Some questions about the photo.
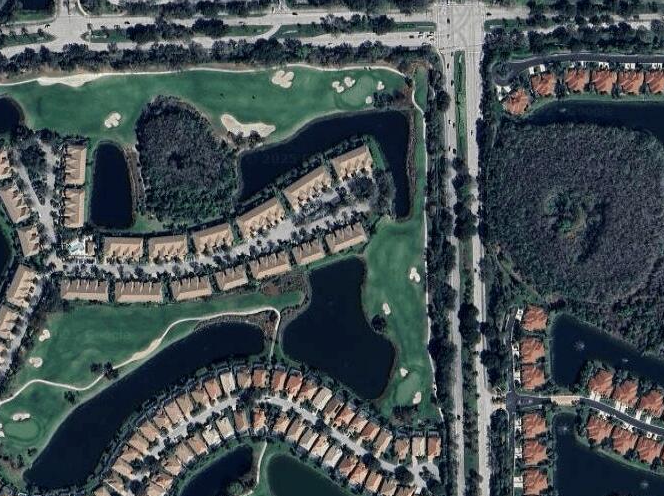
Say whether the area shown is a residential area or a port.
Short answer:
residential area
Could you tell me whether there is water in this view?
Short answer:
Yes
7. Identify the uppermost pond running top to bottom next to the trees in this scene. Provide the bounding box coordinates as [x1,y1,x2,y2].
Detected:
[91,142,133,227]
